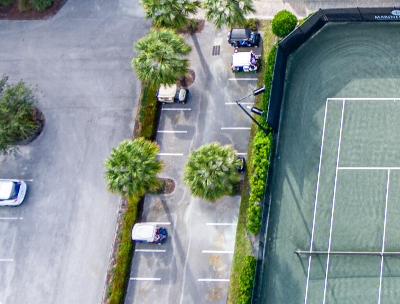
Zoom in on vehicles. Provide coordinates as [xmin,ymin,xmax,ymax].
[152,83,189,105]
[225,53,259,75]
[0,182,29,208]
[227,27,261,49]
[126,225,166,247]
